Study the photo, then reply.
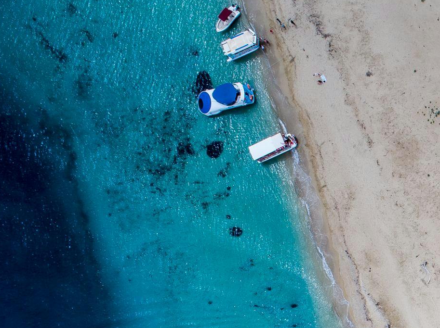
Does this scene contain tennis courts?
No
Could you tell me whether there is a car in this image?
No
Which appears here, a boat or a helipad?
boat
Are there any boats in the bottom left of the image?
No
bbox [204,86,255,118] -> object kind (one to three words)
boat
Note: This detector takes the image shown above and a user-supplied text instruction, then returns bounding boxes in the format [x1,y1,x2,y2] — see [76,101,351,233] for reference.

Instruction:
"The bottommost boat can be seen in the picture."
[249,133,301,166]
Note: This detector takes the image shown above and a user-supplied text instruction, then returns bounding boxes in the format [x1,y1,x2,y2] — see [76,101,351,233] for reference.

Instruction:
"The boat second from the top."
[220,31,264,66]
